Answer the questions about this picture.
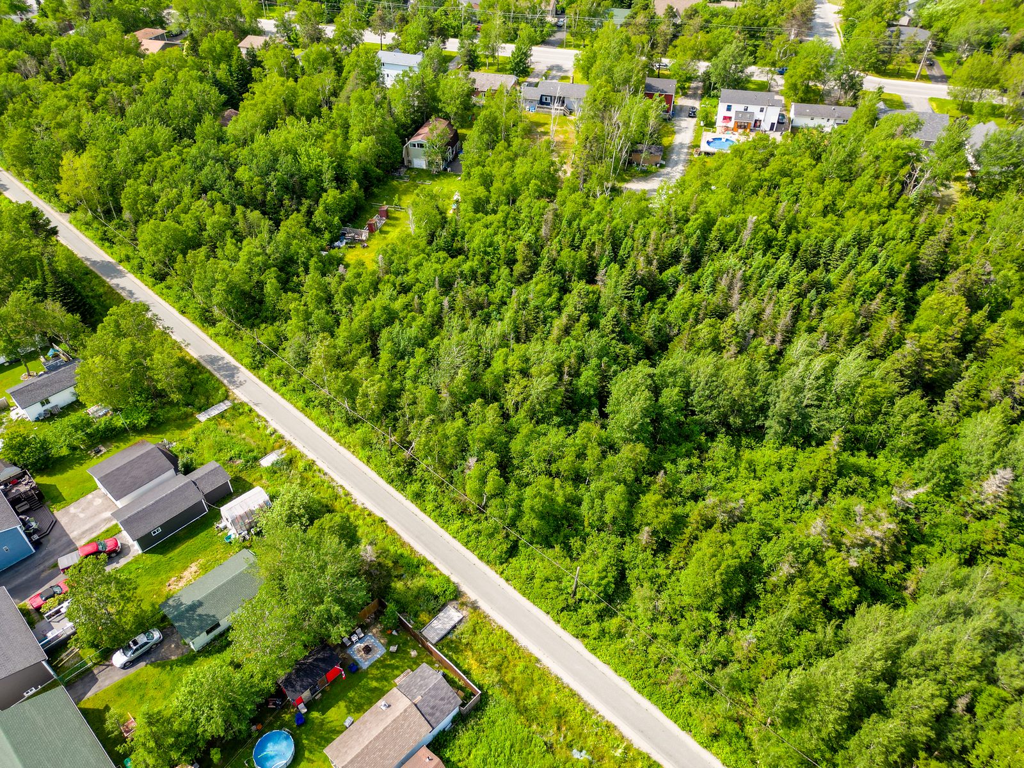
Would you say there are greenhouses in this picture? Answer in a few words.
Yes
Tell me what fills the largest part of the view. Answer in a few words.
trees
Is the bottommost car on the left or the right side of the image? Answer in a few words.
left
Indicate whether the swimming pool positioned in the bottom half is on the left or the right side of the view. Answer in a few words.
left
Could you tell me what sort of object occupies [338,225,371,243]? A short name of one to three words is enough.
shed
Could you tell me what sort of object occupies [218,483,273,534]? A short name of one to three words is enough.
greenhouse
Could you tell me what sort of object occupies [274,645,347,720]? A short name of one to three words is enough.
shed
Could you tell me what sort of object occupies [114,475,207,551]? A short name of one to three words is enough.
building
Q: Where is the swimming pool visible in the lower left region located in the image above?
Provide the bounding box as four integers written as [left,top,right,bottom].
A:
[252,728,297,768]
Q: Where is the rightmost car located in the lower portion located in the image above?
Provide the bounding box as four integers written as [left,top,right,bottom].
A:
[112,627,167,667]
